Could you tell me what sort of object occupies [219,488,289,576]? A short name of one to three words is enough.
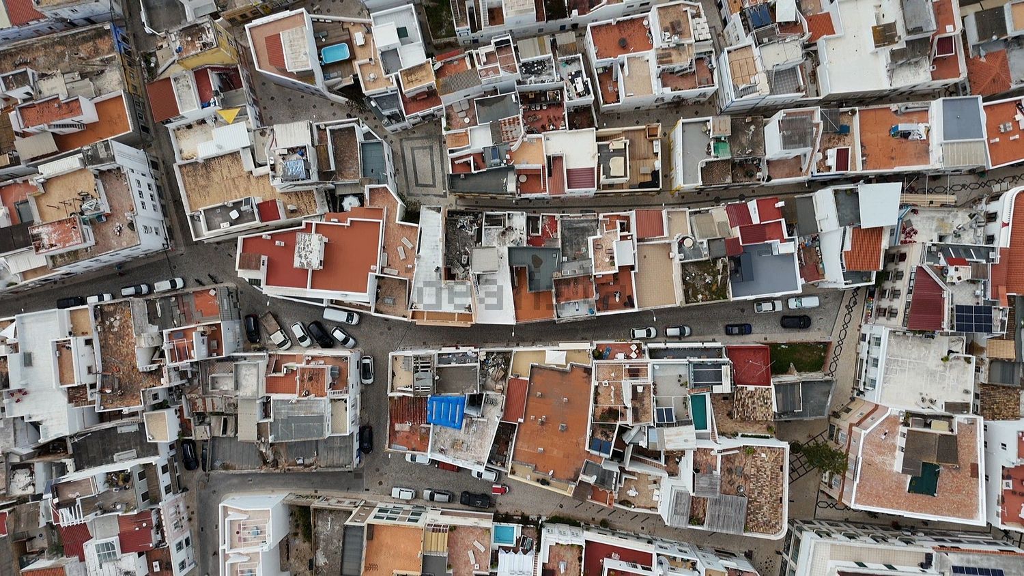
house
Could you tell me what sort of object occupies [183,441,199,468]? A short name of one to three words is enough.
car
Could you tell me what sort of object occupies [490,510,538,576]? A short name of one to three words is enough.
house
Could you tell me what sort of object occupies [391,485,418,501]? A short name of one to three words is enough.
vehicle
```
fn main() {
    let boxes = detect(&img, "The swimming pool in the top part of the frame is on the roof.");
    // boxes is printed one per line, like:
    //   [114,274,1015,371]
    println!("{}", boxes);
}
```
[323,45,348,62]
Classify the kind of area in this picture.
residential area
